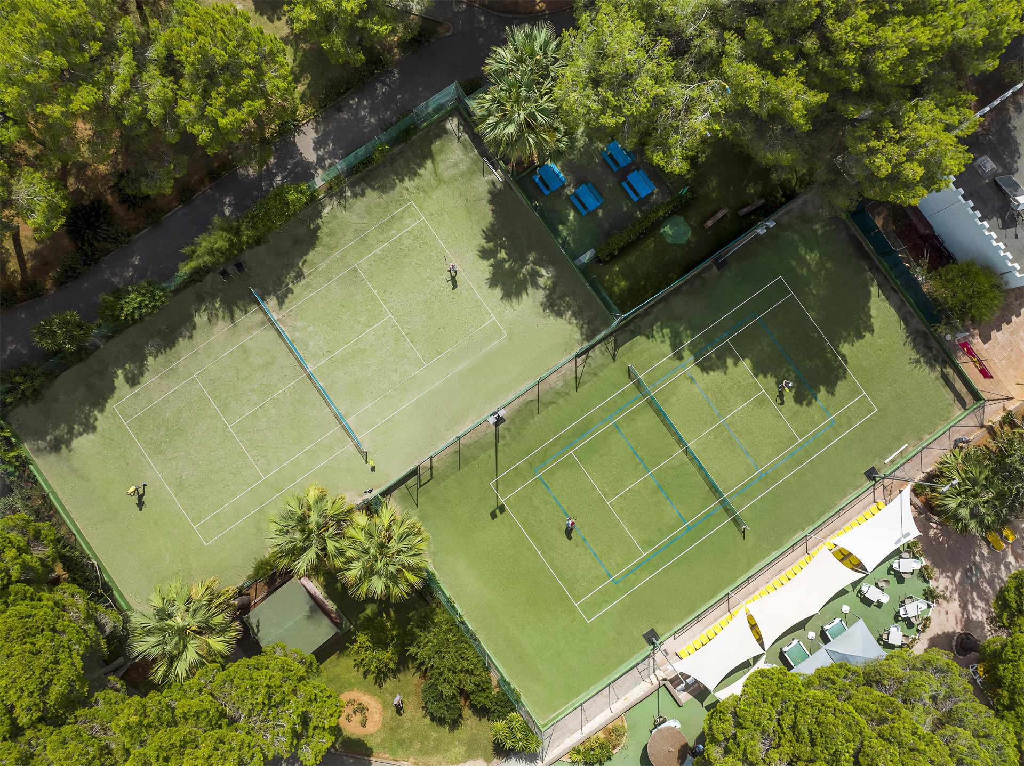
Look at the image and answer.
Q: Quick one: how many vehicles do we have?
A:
0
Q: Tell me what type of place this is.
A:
sports ground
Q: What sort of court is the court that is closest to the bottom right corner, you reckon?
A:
tennis court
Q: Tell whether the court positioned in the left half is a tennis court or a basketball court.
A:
tennis court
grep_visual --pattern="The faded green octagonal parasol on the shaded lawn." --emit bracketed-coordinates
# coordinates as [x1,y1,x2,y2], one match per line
[660,214,691,246]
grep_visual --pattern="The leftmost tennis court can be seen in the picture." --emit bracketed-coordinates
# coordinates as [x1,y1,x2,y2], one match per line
[3,108,619,641]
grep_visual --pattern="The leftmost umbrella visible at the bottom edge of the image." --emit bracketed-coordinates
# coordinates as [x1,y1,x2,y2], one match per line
[647,726,687,766]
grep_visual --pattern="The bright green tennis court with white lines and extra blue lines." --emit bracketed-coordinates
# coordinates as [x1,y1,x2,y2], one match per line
[385,188,981,726]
